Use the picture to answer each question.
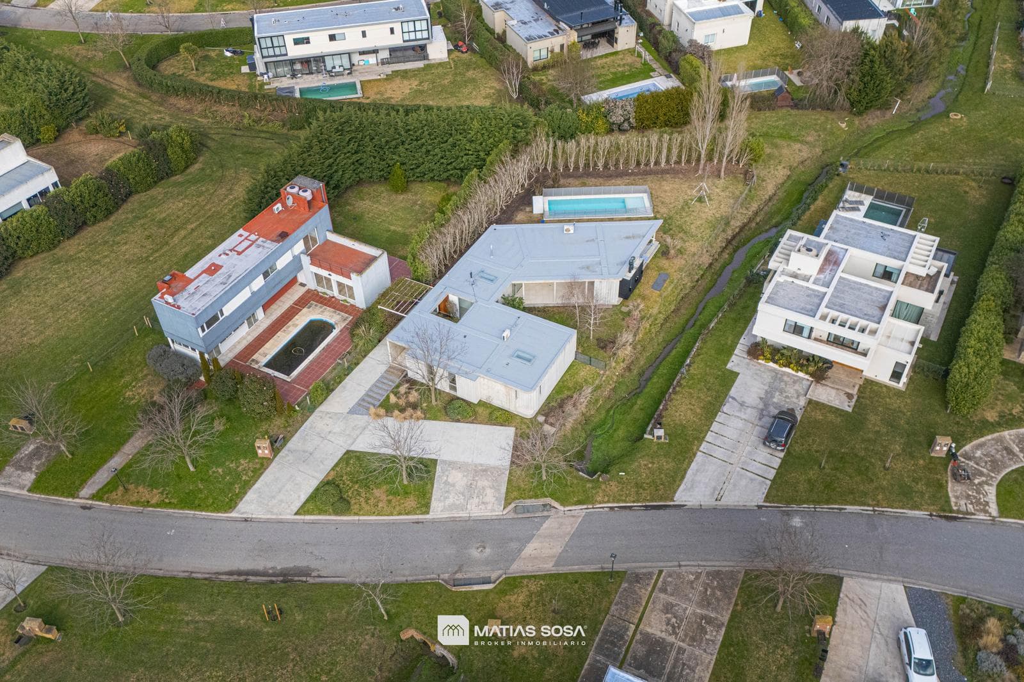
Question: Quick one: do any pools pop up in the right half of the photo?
Yes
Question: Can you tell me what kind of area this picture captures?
residential area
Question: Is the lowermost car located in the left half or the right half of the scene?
right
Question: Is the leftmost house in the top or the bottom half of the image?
top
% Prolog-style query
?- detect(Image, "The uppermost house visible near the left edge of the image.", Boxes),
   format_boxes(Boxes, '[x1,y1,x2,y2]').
[0,133,62,223]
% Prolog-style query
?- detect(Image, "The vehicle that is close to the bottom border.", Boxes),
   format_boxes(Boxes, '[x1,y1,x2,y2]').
[896,628,940,682]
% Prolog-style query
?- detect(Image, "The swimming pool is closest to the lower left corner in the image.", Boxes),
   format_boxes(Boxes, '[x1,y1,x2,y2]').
[244,301,353,381]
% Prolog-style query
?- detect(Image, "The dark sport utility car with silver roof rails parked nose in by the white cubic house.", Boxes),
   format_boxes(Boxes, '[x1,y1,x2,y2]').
[764,409,798,451]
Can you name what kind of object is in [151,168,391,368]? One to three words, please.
house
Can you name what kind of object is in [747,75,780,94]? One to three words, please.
swimming pool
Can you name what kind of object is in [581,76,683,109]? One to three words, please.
swimming pool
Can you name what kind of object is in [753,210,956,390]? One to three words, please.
house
